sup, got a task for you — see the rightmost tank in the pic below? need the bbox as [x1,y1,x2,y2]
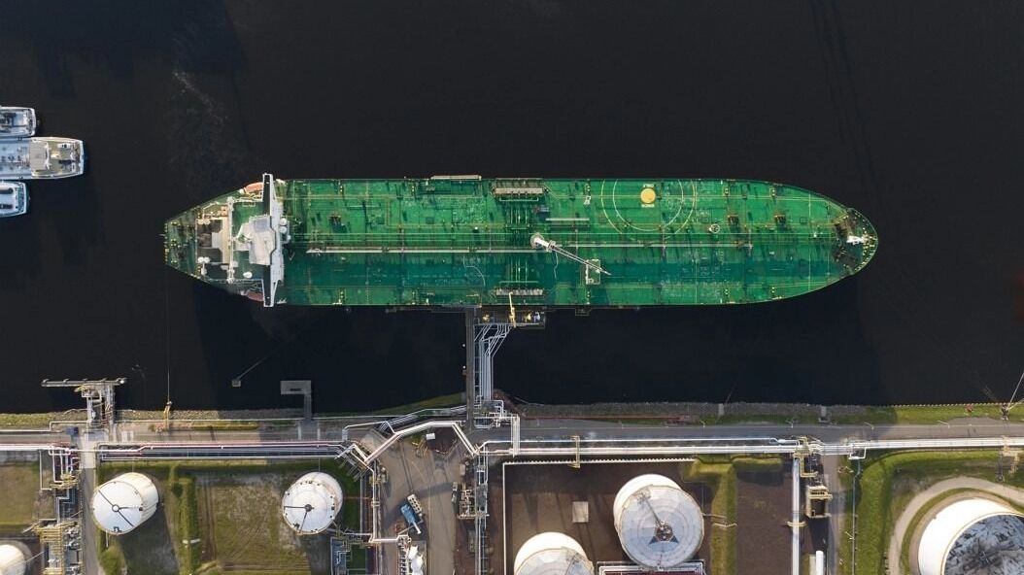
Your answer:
[919,498,1024,575]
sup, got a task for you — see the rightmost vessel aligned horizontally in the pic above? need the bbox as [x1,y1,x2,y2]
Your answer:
[164,172,880,313]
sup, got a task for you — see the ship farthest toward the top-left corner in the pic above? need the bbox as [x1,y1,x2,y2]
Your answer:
[0,106,39,136]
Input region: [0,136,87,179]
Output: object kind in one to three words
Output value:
ship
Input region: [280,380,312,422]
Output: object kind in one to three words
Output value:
pier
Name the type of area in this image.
industrial area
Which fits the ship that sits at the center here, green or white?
green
